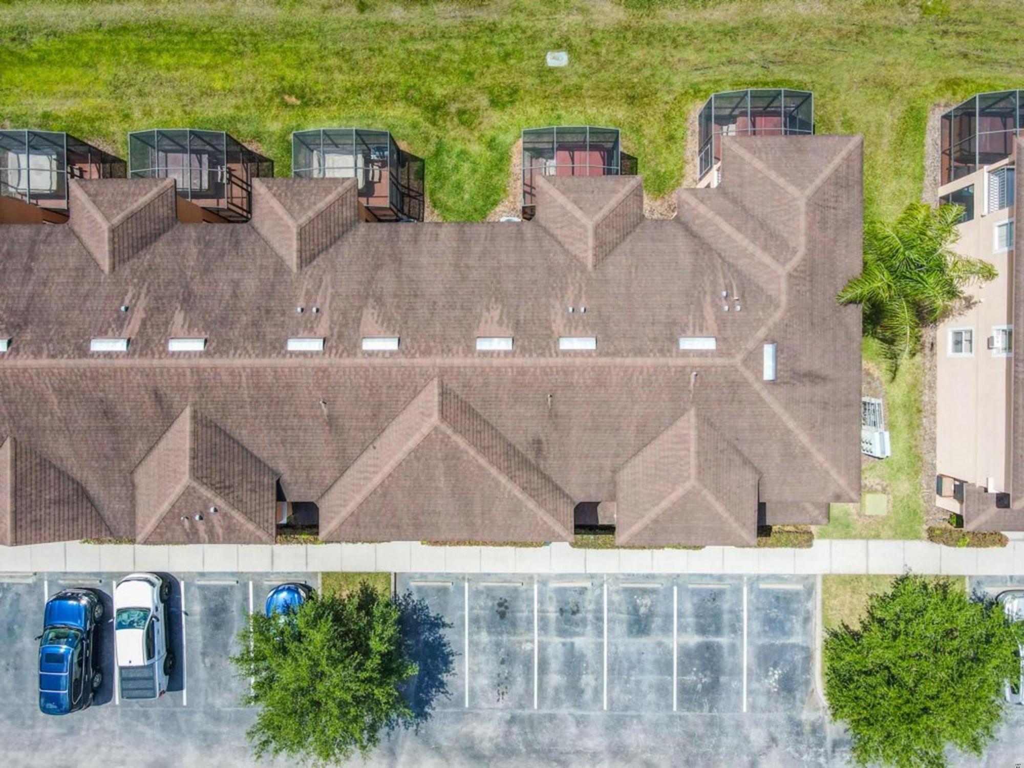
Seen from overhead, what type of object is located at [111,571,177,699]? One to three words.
truck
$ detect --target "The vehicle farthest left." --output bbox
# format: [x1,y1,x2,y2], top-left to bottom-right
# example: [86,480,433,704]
[37,588,104,714]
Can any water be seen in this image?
No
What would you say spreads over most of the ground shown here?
buildings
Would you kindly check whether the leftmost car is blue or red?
blue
